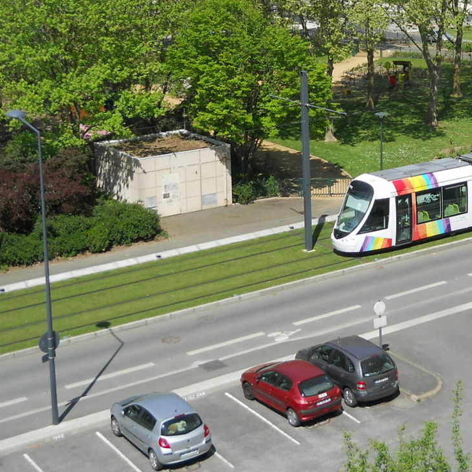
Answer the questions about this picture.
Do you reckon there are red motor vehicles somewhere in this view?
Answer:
Yes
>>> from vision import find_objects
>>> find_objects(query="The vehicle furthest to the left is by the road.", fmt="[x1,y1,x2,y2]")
[110,389,219,470]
